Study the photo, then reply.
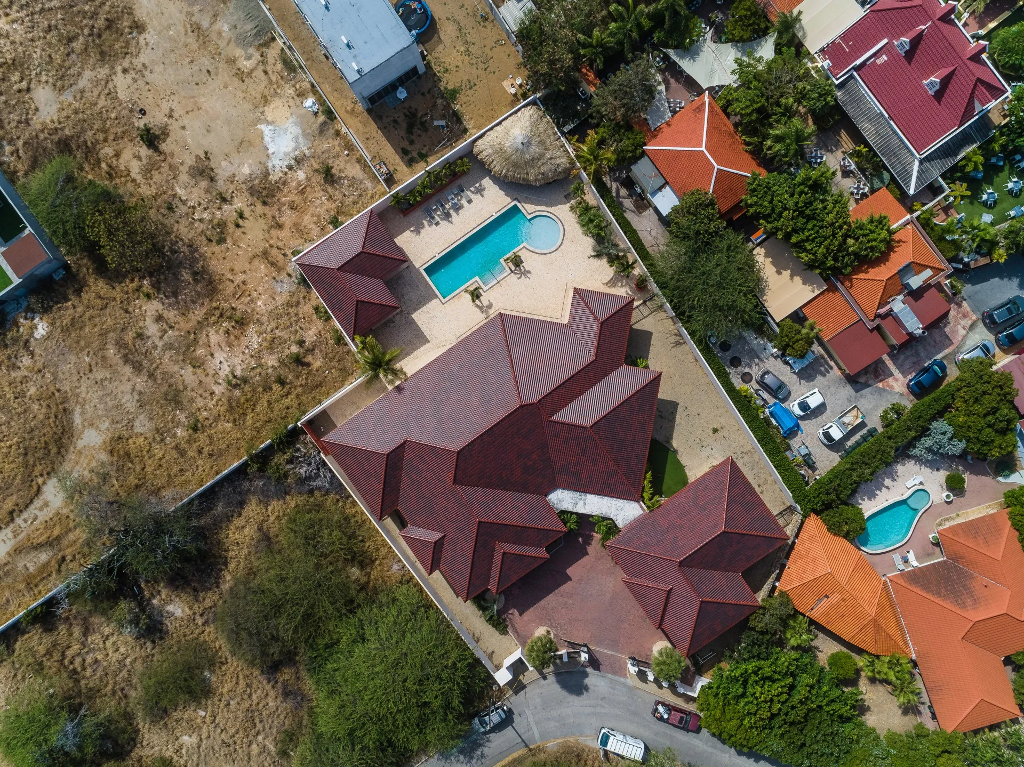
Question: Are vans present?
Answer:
Yes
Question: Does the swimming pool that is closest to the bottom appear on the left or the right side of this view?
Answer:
right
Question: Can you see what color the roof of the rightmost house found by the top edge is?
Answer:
red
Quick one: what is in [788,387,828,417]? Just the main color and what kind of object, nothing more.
white car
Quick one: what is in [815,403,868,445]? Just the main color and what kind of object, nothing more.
white truck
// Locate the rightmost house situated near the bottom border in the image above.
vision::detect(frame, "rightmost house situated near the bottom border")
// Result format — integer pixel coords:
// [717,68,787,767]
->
[888,503,1024,736]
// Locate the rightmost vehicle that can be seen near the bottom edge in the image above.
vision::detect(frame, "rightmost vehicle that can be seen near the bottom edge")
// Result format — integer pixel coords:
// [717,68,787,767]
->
[647,696,702,732]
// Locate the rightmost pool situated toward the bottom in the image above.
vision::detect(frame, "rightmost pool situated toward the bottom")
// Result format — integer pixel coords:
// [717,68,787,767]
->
[854,486,934,554]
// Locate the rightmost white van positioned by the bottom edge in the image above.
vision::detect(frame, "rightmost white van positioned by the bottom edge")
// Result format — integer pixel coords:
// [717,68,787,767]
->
[596,728,648,766]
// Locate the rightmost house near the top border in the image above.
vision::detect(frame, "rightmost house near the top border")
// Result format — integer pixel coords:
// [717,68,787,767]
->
[799,0,1012,193]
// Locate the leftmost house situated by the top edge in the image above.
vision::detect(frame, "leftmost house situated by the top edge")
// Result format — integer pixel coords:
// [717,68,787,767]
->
[291,0,422,109]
